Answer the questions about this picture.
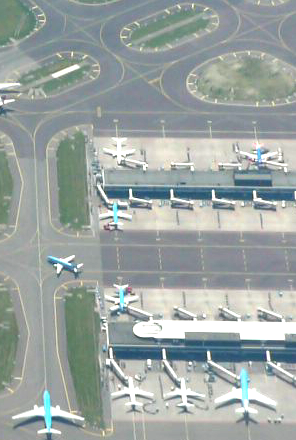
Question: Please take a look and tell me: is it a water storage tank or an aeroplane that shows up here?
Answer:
aeroplane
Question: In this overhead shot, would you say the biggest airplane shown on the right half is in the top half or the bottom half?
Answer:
bottom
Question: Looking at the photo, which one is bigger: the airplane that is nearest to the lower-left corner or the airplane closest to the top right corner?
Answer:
the airplane that is nearest to the lower-left corner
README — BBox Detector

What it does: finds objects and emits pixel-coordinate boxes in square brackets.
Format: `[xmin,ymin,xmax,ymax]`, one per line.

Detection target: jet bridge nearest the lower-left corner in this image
[109,349,129,382]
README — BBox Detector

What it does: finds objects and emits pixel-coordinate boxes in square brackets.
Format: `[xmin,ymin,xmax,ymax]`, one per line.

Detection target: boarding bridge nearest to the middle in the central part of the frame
[128,190,153,208]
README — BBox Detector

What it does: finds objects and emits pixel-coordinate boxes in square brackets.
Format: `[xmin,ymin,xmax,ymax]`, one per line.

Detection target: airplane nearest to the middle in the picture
[99,203,131,226]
